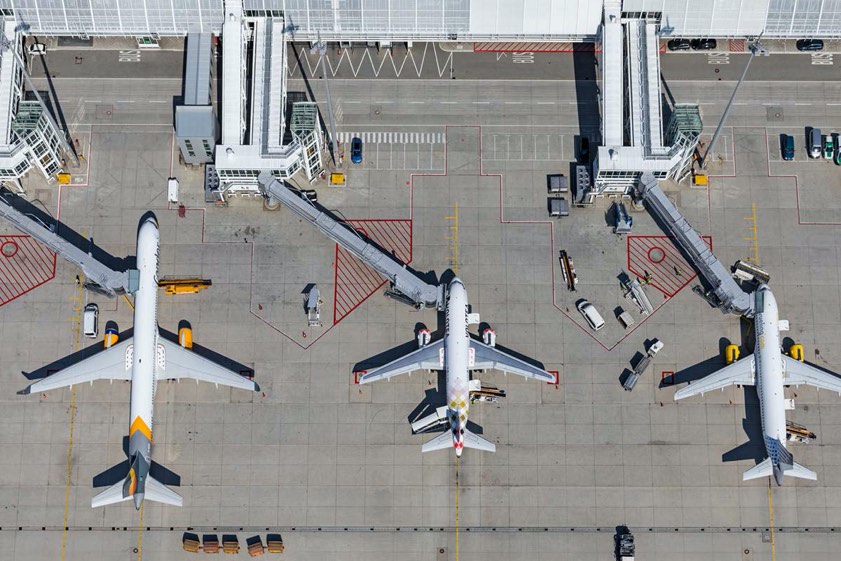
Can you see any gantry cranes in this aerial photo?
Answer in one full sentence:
No, the picture doesn't show any gantry crane.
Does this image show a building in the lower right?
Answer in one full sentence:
No, I see no building in the lower right.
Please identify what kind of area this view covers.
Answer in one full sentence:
The picture captures an airport.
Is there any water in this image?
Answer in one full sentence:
No, the scene doesn't show any water.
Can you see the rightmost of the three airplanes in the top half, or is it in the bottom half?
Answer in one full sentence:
Seen from above, the rightmost of the three airplanes lies in the bottom half of the view.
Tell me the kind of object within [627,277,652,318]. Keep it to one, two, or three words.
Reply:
work vehicle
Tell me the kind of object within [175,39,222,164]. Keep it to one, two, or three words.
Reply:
building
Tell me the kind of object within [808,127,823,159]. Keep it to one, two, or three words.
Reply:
vehicle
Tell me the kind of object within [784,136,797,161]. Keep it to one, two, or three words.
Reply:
vehicle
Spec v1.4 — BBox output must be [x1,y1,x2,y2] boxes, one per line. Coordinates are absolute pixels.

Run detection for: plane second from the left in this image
[361,278,556,458]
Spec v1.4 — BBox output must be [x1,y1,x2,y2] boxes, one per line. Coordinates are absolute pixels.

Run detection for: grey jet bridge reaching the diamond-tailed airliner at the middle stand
[258,173,448,312]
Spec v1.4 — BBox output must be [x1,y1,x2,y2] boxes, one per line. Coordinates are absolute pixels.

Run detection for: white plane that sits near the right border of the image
[673,283,841,488]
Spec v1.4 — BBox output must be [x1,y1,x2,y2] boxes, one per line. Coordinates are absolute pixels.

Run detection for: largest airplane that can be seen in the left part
[18,216,256,512]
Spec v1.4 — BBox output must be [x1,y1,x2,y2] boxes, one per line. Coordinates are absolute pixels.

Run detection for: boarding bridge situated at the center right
[632,173,767,317]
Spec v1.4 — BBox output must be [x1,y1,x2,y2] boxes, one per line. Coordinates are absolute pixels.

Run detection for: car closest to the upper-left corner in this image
[28,43,48,56]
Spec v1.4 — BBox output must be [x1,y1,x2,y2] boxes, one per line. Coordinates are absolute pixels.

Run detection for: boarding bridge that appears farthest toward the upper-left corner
[0,194,141,299]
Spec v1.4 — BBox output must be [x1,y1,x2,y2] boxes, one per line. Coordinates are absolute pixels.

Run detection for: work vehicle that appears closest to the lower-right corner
[785,425,816,442]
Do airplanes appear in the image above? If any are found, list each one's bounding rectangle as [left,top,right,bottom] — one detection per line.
[673,283,841,488]
[361,278,556,458]
[18,216,256,512]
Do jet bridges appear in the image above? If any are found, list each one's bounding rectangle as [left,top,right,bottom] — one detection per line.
[632,173,767,317]
[258,173,448,312]
[0,194,141,299]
